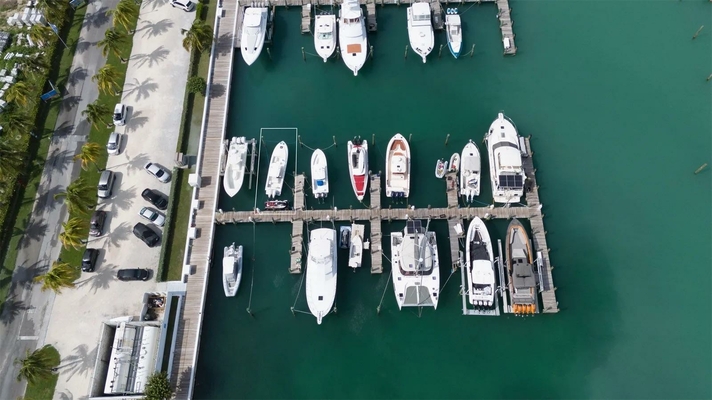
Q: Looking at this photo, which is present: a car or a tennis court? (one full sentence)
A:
This aerial view contains a car.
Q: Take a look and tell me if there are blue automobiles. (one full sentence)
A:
No, this view has no blue automobile in it.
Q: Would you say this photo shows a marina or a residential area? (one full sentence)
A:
This image shows a marina.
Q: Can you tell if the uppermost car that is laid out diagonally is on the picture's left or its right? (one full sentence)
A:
The uppermost car that is laid out diagonally appears in the left half of the scene.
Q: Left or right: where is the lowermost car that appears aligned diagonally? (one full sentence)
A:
The lowermost car that appears aligned diagonally appears in the left half of the scene.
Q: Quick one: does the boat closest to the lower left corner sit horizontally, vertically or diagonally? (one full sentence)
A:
What the image shows is the boat closest to the lower left corner lying vertically.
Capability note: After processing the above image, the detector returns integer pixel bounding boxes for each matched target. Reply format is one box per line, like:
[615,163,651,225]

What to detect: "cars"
[81,245,101,275]
[170,0,196,13]
[97,168,117,200]
[106,130,124,157]
[88,209,108,239]
[140,186,168,211]
[136,203,166,227]
[144,160,172,184]
[112,102,129,127]
[131,220,163,248]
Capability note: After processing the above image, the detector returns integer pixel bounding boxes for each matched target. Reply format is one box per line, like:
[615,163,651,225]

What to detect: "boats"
[350,233,362,271]
[337,0,367,75]
[386,133,410,202]
[435,158,446,179]
[405,0,435,61]
[448,153,460,173]
[446,7,462,58]
[349,134,369,199]
[309,0,338,62]
[305,227,339,324]
[460,136,481,202]
[503,218,537,316]
[312,147,328,200]
[487,112,526,210]
[224,137,247,196]
[240,3,267,66]
[389,221,441,319]
[222,242,243,298]
[266,200,289,209]
[465,216,496,311]
[266,140,287,201]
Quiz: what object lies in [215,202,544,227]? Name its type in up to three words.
pier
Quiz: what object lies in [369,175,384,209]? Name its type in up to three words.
pier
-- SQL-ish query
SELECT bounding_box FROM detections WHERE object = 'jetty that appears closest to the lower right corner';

[528,218,559,312]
